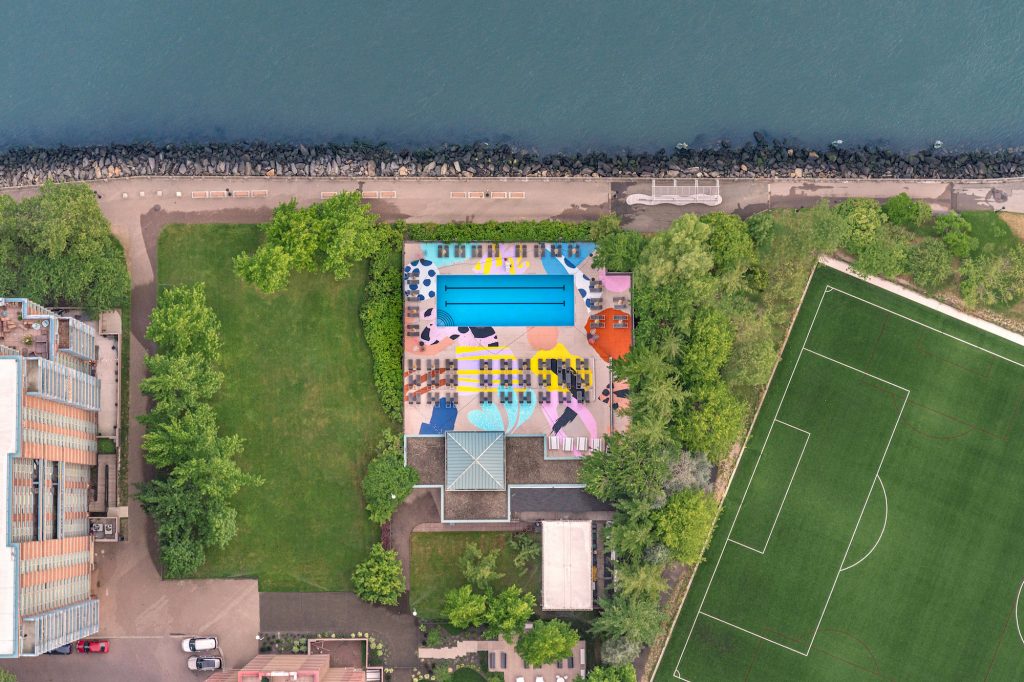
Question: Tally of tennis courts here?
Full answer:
There are no tennis courts in this view.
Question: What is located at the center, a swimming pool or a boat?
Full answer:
Visible at the center is a swimming pool.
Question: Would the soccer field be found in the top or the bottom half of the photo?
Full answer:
Seen from above, the soccer field lies in the bottom half of the view.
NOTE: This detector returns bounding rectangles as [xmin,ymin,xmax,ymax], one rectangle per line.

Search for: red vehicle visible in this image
[76,640,109,654]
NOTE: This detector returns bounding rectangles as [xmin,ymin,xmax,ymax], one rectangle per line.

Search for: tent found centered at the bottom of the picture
[542,521,593,610]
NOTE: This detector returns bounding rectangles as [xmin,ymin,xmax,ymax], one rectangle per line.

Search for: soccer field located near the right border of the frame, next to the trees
[650,262,1024,682]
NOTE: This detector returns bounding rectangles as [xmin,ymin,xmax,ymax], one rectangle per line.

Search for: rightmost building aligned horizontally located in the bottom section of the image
[405,431,605,522]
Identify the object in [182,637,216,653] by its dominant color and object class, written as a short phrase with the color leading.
white car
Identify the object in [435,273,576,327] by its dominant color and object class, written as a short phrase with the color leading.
blue swimming pool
